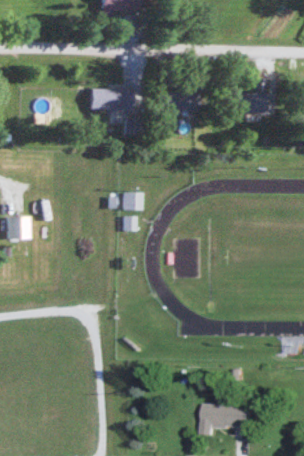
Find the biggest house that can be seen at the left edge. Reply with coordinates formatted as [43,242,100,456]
[7,217,32,240]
